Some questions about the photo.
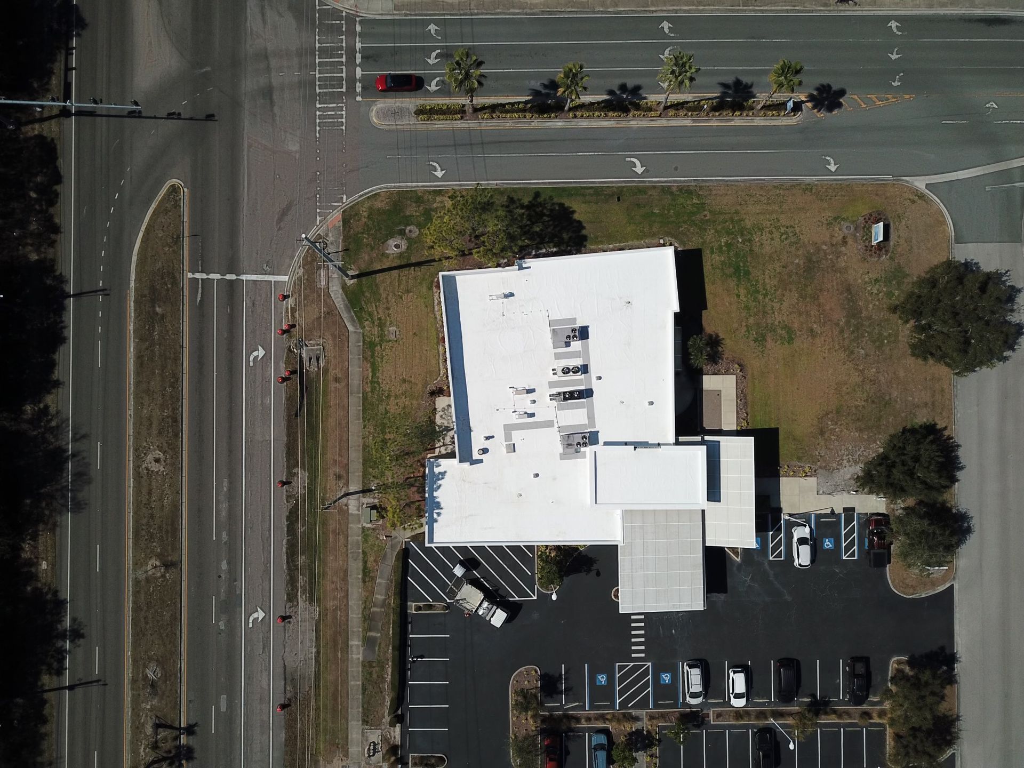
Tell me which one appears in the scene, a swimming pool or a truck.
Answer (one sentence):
There is a truck in the scene.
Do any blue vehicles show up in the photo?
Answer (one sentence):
Yes, a blue vehicle is visible in the scene.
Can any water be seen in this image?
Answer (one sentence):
No, water can't be seen anywhere here.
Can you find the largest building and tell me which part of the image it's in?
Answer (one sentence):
Look in the center portion of the view to spot the largest building.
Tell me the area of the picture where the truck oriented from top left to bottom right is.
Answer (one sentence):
The truck oriented from top left to bottom right is in the bottom part of the image.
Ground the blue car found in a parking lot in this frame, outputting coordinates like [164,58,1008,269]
[591,731,611,768]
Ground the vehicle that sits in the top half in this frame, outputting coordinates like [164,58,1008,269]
[375,70,416,92]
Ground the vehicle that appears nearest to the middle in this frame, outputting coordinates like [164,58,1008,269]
[446,577,515,635]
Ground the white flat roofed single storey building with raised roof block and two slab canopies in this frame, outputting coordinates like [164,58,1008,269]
[427,248,755,612]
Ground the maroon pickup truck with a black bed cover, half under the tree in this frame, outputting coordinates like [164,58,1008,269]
[864,513,887,564]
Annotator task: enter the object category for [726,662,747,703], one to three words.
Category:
car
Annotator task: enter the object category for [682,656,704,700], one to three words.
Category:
car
